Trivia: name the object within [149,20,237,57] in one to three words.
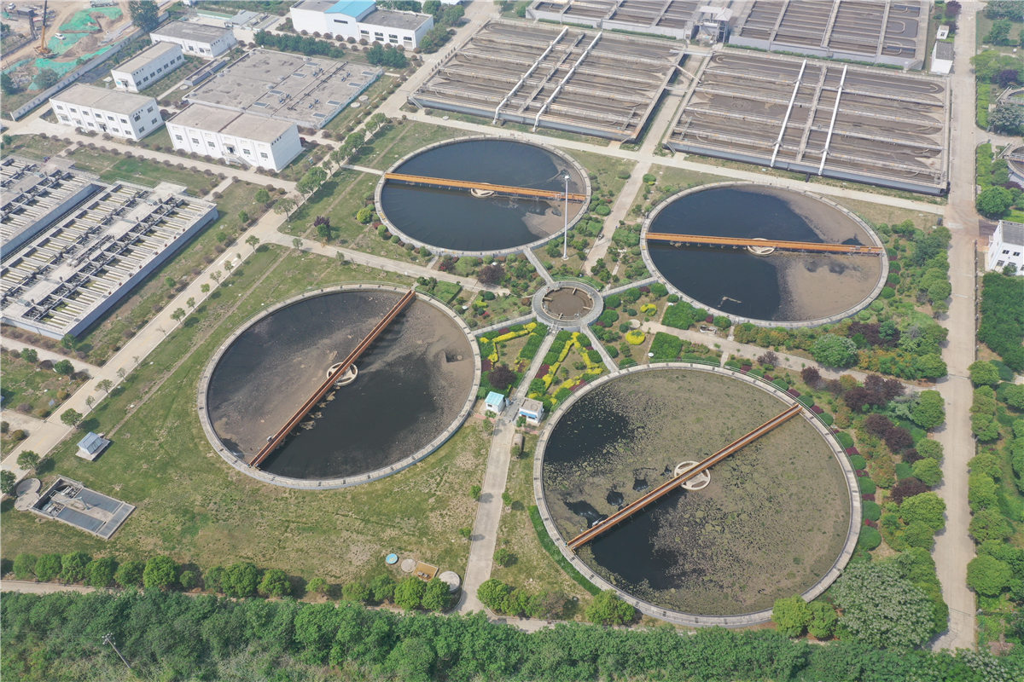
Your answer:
building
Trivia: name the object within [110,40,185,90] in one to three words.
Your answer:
building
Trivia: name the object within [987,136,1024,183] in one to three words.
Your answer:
storage tank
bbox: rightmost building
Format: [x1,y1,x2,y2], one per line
[980,219,1024,275]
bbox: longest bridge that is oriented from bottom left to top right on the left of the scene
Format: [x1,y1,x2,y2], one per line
[245,289,419,471]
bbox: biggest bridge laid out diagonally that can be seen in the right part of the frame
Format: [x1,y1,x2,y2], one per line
[563,403,808,555]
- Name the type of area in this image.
industrial area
